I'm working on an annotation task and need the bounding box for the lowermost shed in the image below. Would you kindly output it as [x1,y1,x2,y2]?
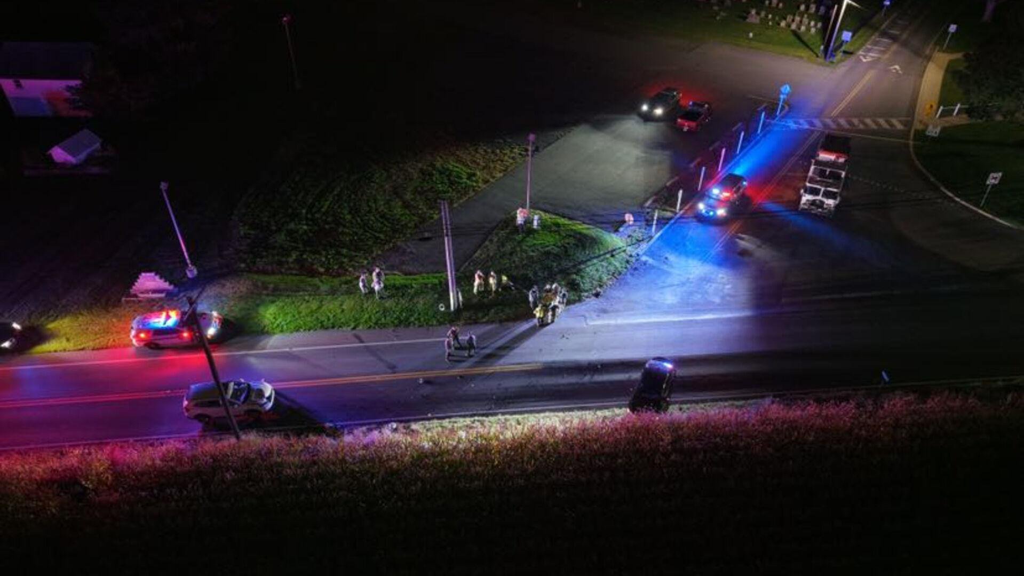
[46,130,107,169]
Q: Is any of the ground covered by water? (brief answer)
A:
No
